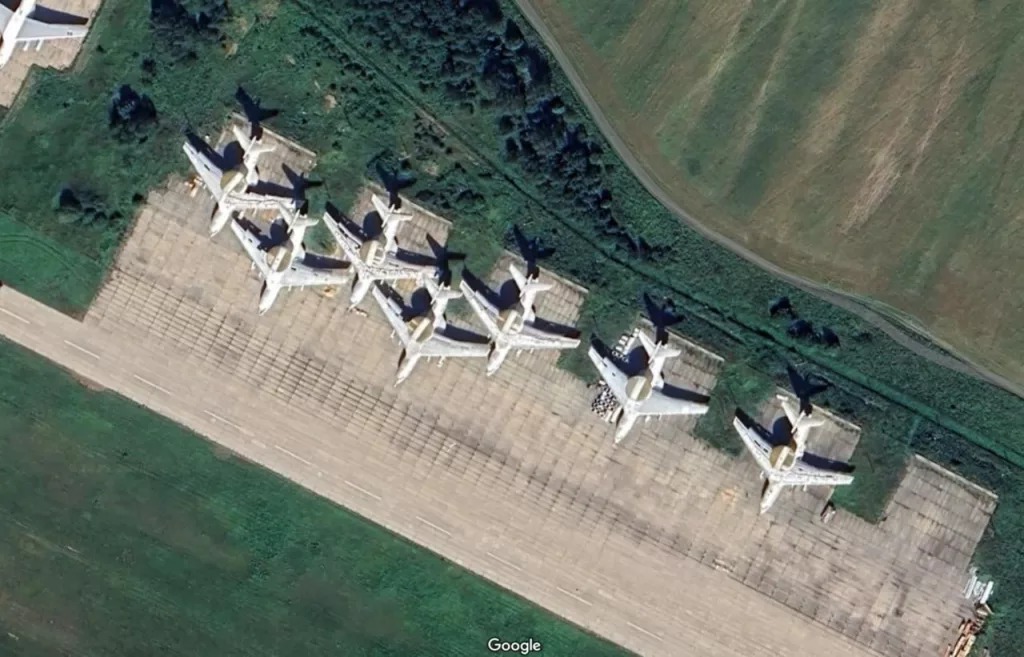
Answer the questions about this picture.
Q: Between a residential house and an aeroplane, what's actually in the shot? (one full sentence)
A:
Looking from above, you can make out an aeroplane.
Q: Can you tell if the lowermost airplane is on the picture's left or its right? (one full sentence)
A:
The lowermost airplane appears in the right half of the scene.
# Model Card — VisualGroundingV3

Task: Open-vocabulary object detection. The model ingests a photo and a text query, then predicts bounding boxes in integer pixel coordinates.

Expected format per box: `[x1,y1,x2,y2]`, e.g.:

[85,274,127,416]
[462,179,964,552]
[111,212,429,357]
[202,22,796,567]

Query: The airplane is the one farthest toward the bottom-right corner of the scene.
[730,399,855,516]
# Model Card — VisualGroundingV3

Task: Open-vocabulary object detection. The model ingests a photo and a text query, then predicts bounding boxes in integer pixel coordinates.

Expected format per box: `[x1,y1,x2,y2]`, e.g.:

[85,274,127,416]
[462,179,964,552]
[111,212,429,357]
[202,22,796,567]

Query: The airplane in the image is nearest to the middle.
[458,264,580,381]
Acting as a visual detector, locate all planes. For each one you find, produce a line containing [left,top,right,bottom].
[586,331,708,447]
[183,126,301,241]
[0,0,86,67]
[369,275,488,389]
[227,202,349,317]
[458,264,580,381]
[730,399,855,516]
[319,196,440,312]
